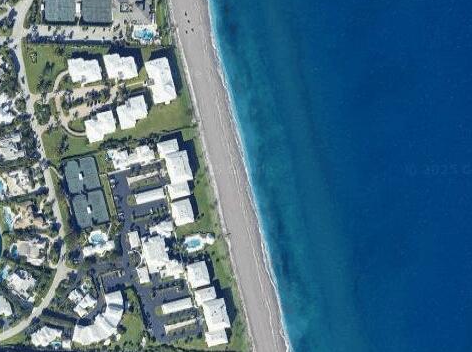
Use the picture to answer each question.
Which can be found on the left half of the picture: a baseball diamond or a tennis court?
tennis court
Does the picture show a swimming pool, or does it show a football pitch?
swimming pool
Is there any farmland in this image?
No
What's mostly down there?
water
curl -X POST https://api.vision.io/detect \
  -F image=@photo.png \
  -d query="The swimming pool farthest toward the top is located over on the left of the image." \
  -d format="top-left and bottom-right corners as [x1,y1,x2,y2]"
[133,24,157,45]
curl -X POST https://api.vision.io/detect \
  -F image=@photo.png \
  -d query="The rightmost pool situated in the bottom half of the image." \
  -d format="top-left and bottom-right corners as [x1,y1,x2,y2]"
[185,236,204,252]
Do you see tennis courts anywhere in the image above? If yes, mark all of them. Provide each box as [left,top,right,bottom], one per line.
[45,0,60,21]
[87,189,109,224]
[65,160,85,194]
[60,0,74,22]
[78,155,102,191]
[71,194,93,228]
[81,0,97,22]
